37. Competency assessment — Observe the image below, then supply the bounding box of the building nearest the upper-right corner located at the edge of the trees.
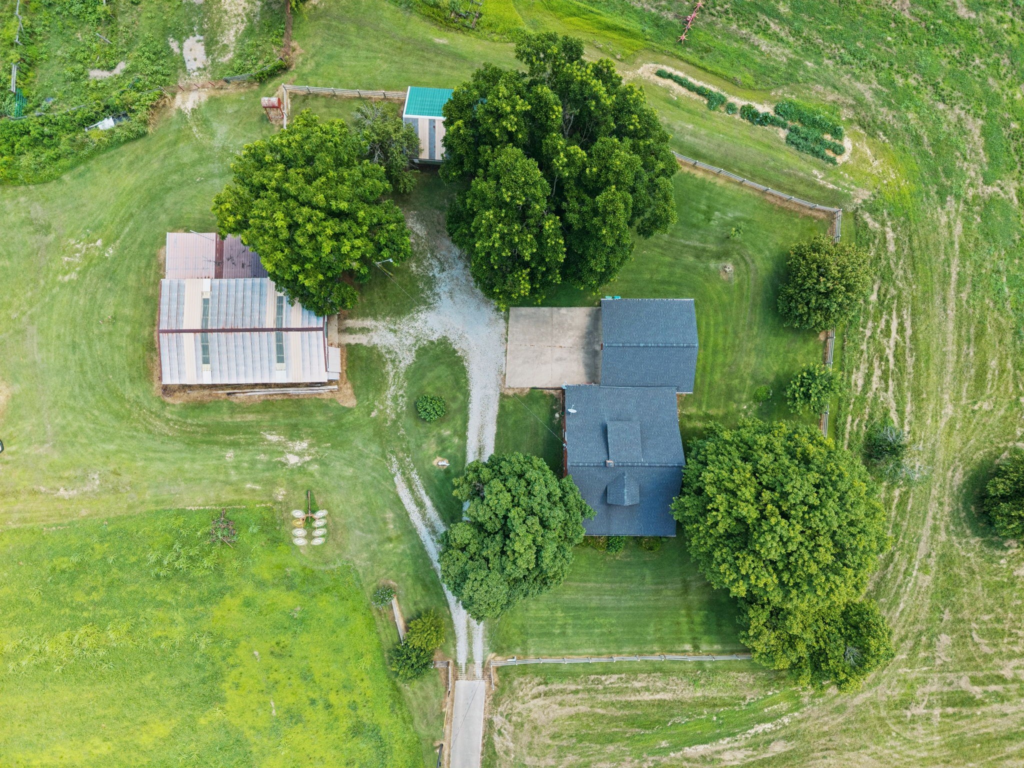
[600,299,698,394]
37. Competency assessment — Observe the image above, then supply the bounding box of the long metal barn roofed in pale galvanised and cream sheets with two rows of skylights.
[154,278,334,385]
